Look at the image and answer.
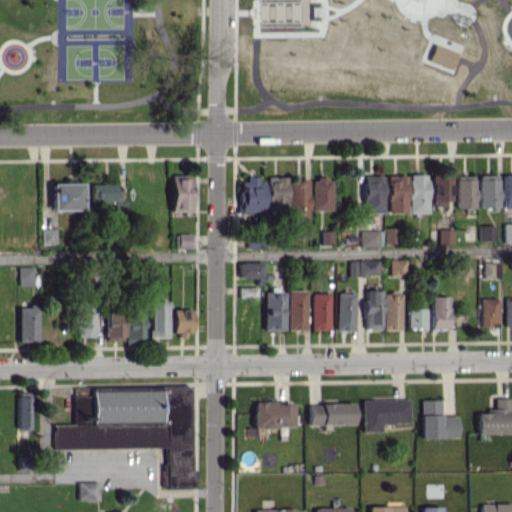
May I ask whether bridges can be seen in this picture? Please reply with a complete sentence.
No, the frame has no bridge in it.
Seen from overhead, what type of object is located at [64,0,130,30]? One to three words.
basketball court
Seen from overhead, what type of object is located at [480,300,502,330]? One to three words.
house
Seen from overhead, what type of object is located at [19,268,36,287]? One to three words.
building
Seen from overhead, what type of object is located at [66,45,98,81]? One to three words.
basketball court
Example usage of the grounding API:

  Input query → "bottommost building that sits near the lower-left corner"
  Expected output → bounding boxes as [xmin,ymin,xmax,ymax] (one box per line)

[78,483,102,502]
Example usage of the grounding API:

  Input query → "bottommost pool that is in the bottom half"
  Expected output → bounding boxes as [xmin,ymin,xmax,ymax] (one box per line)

[242,451,256,466]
